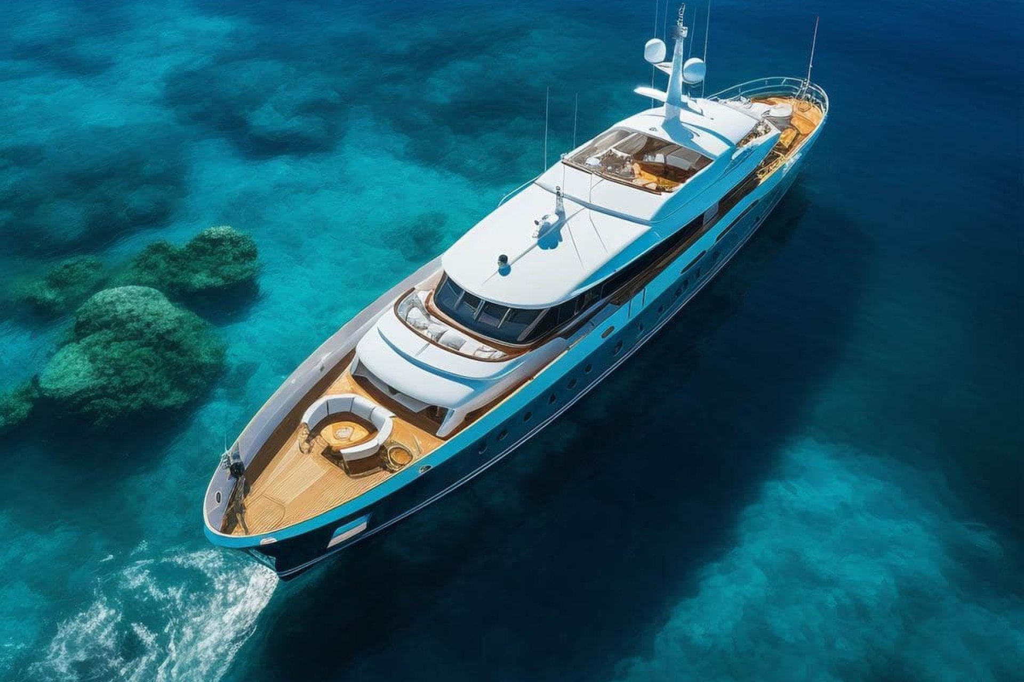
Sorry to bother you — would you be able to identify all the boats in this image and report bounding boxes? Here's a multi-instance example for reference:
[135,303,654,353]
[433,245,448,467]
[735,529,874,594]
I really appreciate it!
[201,0,837,579]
